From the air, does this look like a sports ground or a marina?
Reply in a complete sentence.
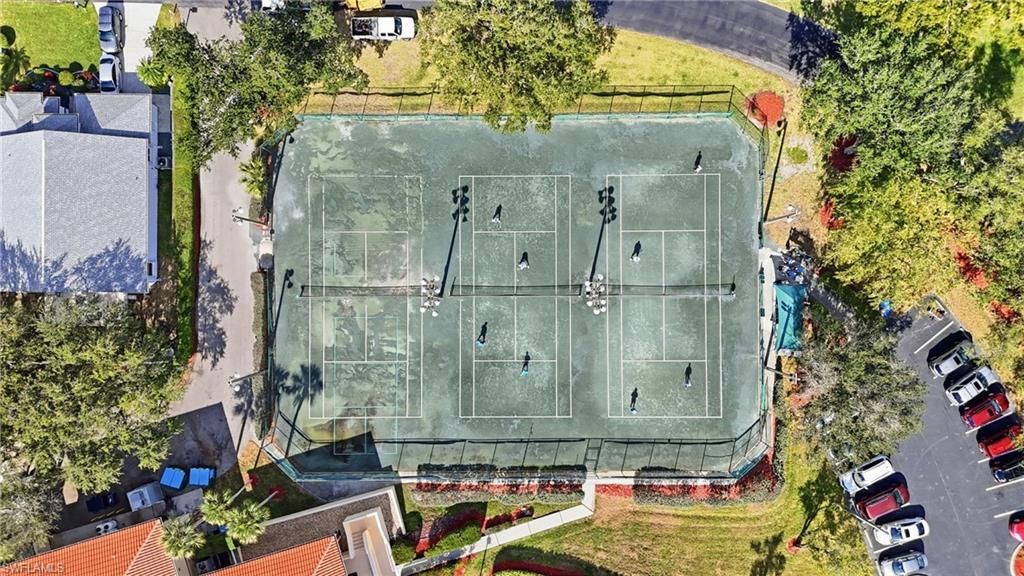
What you see here is a sports ground.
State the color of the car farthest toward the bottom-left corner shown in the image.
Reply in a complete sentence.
From above, the car farthest toward the bottom-left corner appears black.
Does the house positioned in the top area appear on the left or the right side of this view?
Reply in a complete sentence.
The house positioned in the top area sits on the left side.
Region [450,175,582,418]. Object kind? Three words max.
tennis court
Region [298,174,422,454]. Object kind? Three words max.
tennis court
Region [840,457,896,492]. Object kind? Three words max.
car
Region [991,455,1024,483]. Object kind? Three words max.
car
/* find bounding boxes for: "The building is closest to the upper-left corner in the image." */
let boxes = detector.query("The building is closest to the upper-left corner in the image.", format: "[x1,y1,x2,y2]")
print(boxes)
[0,92,161,292]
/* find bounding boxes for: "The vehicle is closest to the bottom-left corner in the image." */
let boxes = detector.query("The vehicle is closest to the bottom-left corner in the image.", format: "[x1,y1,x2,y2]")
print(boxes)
[77,488,125,517]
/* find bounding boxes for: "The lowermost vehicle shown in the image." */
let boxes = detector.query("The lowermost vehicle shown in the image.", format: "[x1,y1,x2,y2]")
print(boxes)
[877,547,930,576]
